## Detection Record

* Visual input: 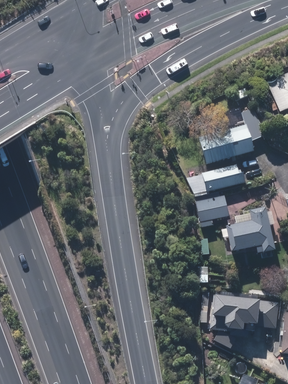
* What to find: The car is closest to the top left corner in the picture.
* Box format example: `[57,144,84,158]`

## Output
[34,15,52,28]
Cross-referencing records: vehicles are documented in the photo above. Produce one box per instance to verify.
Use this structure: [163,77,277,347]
[137,31,153,42]
[165,58,188,74]
[248,6,268,17]
[18,252,29,271]
[34,15,52,28]
[244,168,262,178]
[36,62,54,70]
[94,0,108,6]
[0,148,9,167]
[134,8,150,19]
[159,22,178,34]
[156,0,172,8]
[242,158,258,166]
[0,68,12,80]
